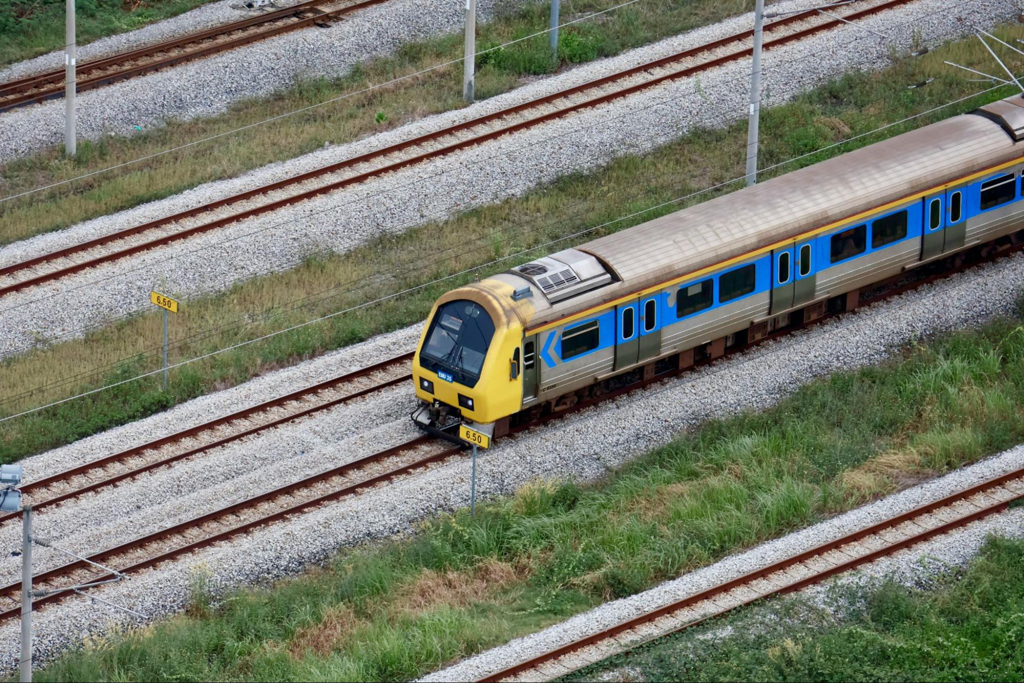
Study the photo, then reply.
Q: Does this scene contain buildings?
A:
No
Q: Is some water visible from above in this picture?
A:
No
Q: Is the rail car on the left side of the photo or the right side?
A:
right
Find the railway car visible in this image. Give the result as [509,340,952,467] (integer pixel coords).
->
[409,94,1024,447]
